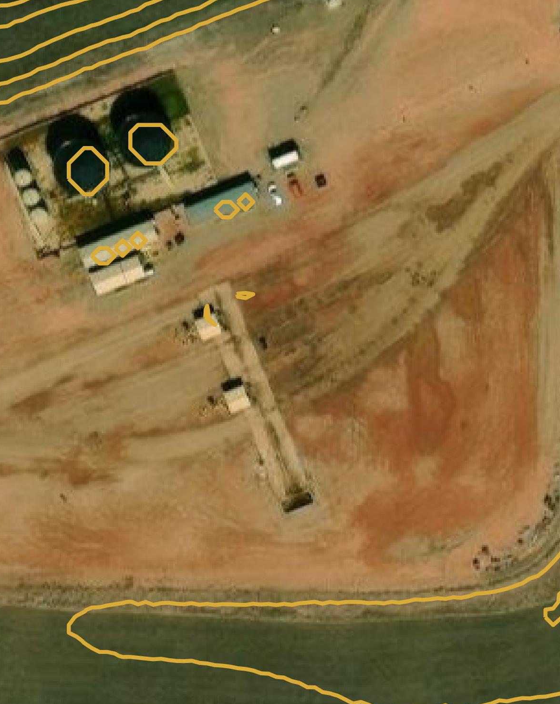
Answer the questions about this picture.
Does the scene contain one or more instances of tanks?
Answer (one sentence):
Yes, a tank can be made out from above.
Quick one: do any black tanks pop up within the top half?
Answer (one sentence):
Yes, within the top half there is a black tank.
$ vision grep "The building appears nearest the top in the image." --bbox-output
[183,181,256,222]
